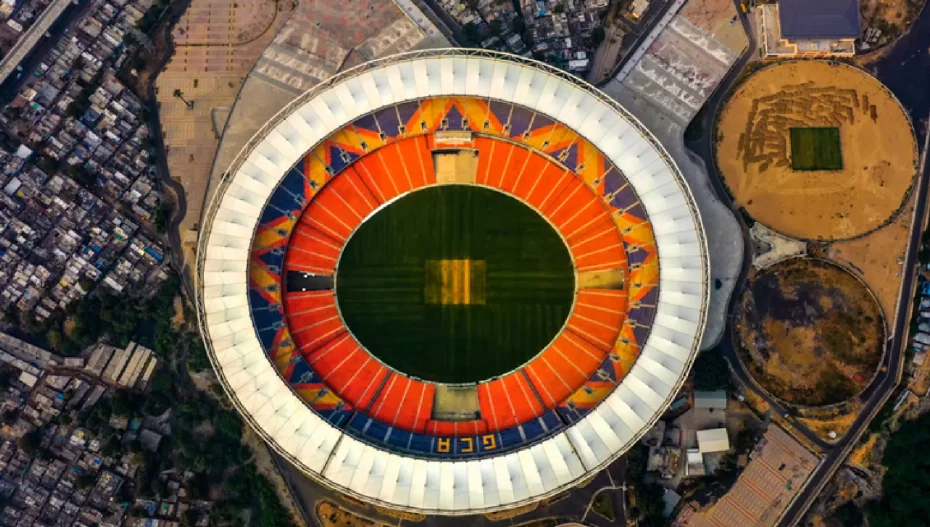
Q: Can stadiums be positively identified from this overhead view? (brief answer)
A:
Yes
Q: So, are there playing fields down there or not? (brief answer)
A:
Yes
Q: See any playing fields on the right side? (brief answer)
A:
Yes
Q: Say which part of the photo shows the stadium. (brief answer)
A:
center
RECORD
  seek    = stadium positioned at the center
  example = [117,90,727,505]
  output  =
[196,46,710,515]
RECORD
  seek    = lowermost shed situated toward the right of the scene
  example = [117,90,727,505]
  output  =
[662,488,684,515]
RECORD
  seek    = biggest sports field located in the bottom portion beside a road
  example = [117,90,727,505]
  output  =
[734,257,887,406]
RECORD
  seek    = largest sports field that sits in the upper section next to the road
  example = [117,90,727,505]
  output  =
[715,57,918,242]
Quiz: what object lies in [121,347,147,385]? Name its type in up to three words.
shed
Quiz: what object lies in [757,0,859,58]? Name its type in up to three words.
building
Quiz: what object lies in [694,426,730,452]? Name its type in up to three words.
shed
